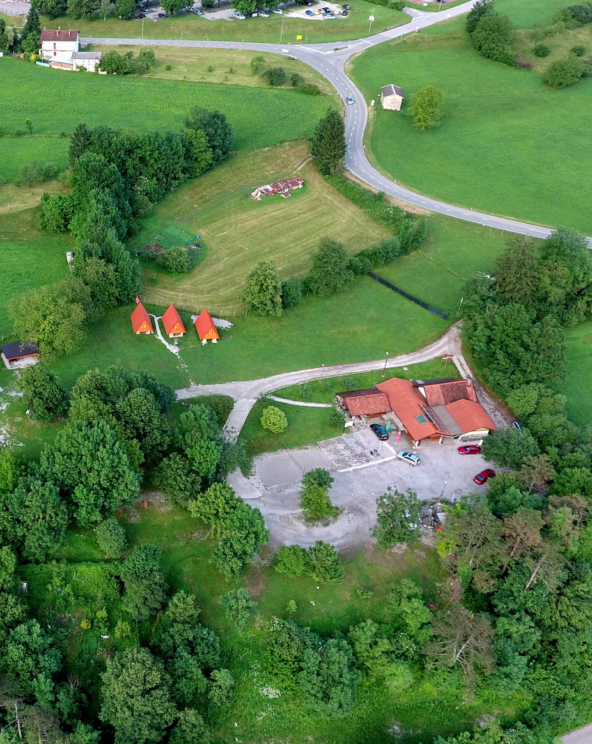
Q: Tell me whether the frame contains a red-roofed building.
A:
Yes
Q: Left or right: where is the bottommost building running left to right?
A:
right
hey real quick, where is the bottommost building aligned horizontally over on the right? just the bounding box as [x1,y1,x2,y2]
[337,373,502,453]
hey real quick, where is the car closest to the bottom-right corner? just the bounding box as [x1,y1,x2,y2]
[472,467,494,485]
